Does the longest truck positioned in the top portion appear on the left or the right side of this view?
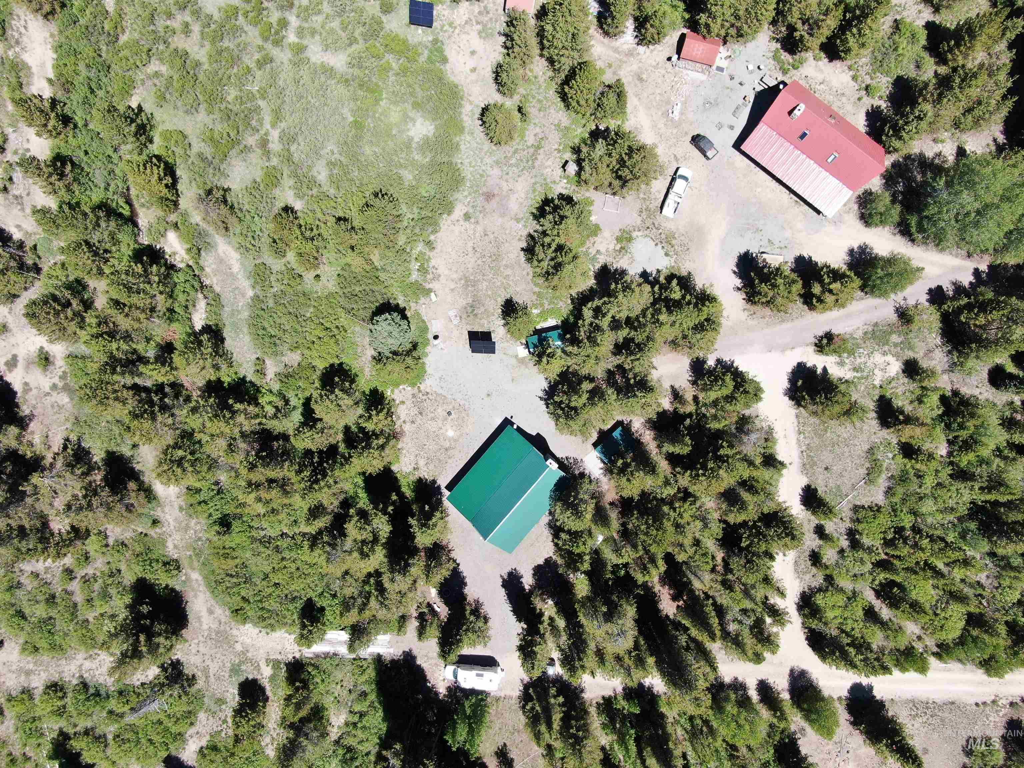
right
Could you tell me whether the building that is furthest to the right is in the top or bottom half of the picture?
top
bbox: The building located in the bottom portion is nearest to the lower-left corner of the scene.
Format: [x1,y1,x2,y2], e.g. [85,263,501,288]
[447,424,566,554]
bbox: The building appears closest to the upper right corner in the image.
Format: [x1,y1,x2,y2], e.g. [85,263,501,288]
[738,80,886,218]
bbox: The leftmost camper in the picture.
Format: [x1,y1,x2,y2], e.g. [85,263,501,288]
[446,664,503,696]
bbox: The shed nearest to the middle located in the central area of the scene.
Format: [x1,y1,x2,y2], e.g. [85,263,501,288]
[527,330,564,351]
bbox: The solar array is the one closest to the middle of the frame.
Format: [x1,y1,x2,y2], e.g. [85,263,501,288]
[471,340,496,354]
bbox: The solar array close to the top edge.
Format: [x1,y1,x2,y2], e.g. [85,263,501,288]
[410,0,434,26]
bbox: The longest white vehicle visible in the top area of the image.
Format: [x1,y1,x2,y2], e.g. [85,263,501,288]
[659,165,693,221]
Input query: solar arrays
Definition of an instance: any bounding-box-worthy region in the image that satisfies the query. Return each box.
[410,0,434,26]
[471,340,496,354]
